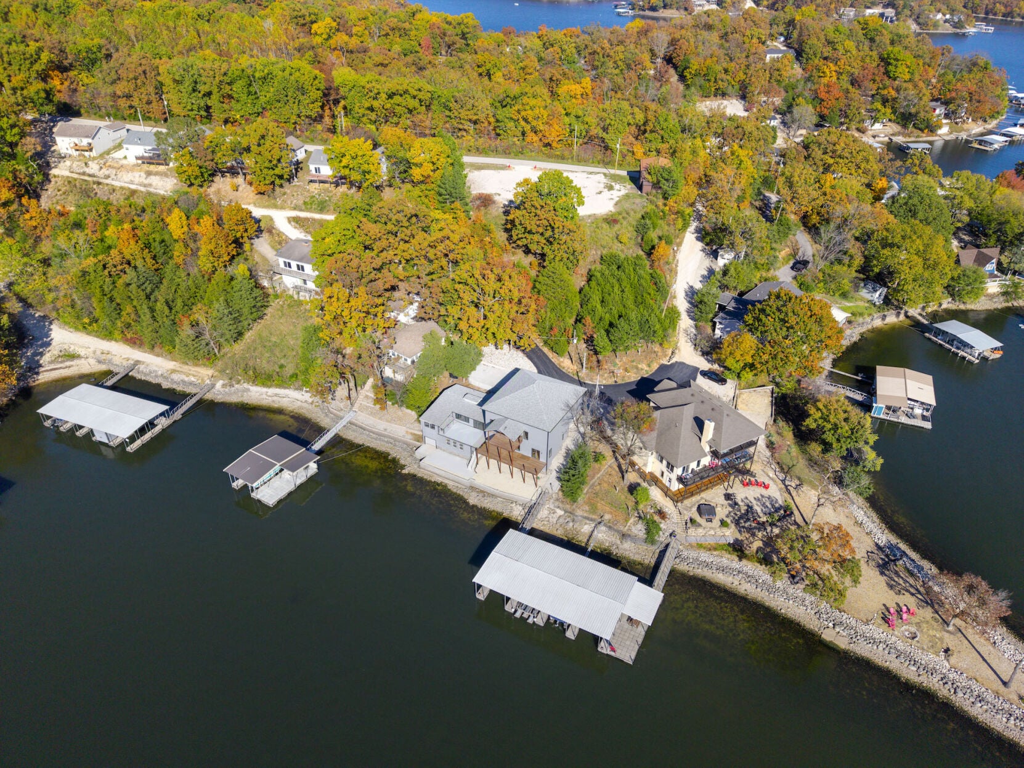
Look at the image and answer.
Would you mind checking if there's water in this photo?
Yes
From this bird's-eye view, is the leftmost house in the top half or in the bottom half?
top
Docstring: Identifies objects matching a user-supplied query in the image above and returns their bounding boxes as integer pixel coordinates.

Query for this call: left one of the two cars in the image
[699,367,730,383]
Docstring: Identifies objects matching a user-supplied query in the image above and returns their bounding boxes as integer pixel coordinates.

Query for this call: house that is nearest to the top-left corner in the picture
[51,119,133,158]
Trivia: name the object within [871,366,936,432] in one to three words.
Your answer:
pier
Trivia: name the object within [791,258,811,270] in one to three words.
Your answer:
vehicle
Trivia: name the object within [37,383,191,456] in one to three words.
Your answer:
pier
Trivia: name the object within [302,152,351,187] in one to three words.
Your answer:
house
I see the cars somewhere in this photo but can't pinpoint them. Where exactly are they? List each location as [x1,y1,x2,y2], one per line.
[699,367,730,383]
[791,258,811,270]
